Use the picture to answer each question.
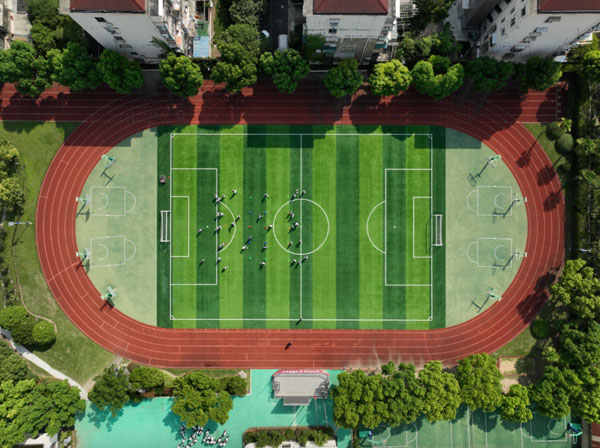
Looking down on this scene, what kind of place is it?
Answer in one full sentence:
What you see here is a sports ground.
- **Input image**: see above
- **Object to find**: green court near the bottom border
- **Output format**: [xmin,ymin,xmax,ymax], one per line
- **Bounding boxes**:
[357,402,579,448]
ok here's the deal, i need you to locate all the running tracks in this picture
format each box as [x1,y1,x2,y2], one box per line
[0,81,568,368]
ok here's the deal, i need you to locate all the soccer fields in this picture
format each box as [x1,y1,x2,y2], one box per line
[157,125,446,329]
